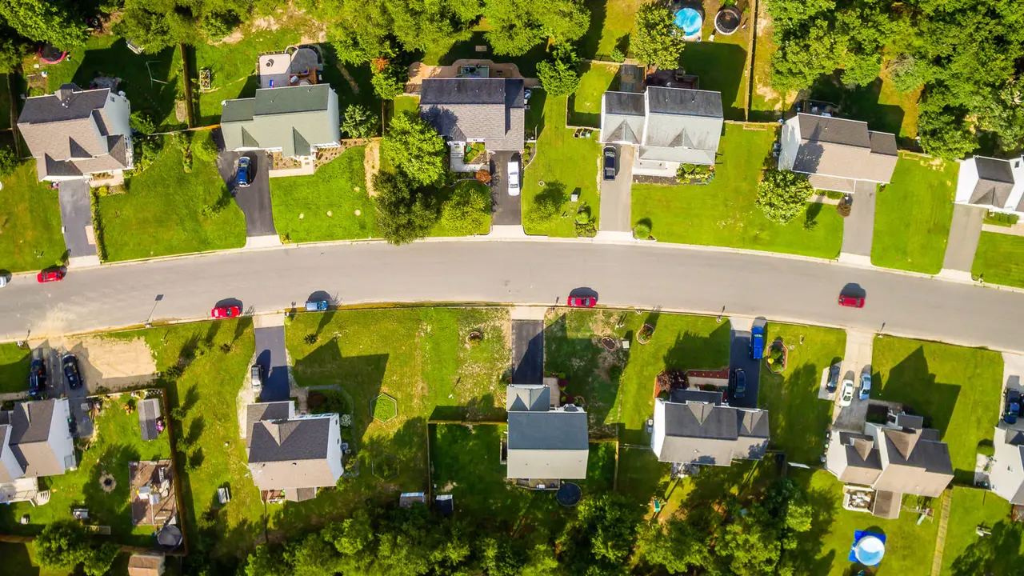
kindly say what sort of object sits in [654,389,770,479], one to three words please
house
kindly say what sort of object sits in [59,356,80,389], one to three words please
car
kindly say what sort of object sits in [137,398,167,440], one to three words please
shed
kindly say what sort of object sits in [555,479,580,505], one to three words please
swimming pool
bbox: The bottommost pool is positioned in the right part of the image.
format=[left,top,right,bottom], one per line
[849,532,884,564]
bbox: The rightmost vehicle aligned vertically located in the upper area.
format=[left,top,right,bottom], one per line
[604,147,617,179]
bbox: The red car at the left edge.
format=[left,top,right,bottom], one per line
[34,269,62,282]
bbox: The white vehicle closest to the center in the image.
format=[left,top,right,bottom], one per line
[507,158,521,191]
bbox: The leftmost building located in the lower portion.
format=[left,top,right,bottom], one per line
[0,397,75,506]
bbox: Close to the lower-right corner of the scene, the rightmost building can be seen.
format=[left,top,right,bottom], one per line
[982,428,1024,522]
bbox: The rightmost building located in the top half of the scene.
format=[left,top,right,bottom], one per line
[950,155,1024,219]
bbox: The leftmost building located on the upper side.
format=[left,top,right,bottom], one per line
[17,83,132,186]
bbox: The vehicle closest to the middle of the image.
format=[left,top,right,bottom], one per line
[569,295,597,308]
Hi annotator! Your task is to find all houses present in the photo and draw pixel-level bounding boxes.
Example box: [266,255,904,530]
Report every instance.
[0,397,75,506]
[17,83,132,186]
[950,155,1024,219]
[827,406,954,519]
[982,428,1024,522]
[245,395,341,505]
[499,383,589,490]
[600,86,723,167]
[654,389,770,479]
[220,84,341,164]
[779,113,898,194]
[419,79,524,158]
